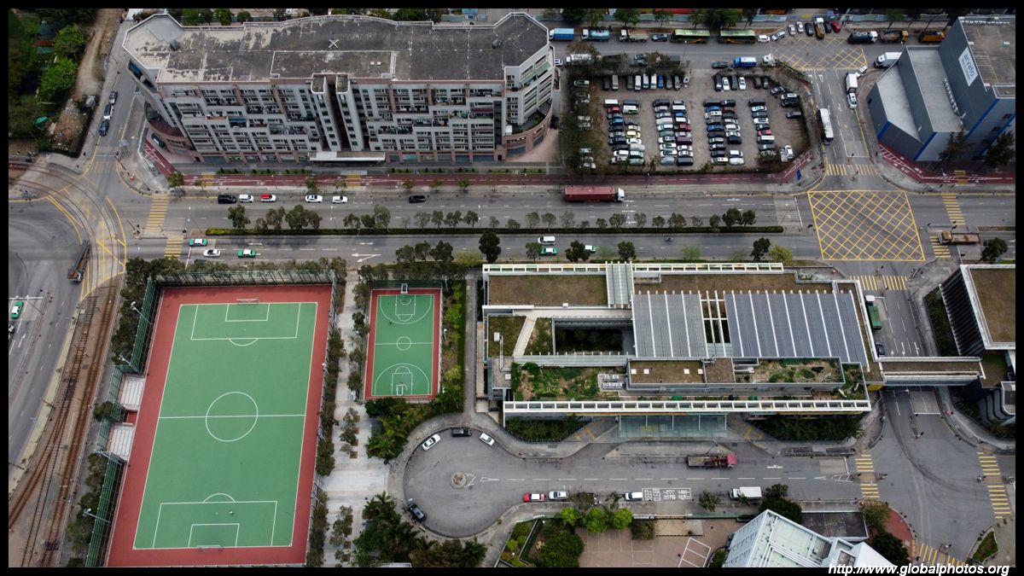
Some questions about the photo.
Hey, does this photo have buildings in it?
Yes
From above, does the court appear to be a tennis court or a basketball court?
basketball court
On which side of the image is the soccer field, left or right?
left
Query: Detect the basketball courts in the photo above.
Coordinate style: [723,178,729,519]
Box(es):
[364,288,441,399]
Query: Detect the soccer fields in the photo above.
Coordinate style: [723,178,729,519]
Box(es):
[105,286,331,576]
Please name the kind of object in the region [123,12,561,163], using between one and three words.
building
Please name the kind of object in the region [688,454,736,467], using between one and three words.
vehicle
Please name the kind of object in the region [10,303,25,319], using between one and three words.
car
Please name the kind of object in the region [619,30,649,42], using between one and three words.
vehicle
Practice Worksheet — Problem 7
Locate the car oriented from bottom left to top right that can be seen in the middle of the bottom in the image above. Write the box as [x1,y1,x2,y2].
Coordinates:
[422,434,441,451]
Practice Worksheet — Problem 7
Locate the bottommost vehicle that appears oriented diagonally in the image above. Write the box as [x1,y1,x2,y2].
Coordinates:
[408,501,425,521]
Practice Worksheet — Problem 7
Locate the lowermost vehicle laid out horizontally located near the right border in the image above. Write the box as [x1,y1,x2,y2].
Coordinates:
[938,233,981,245]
